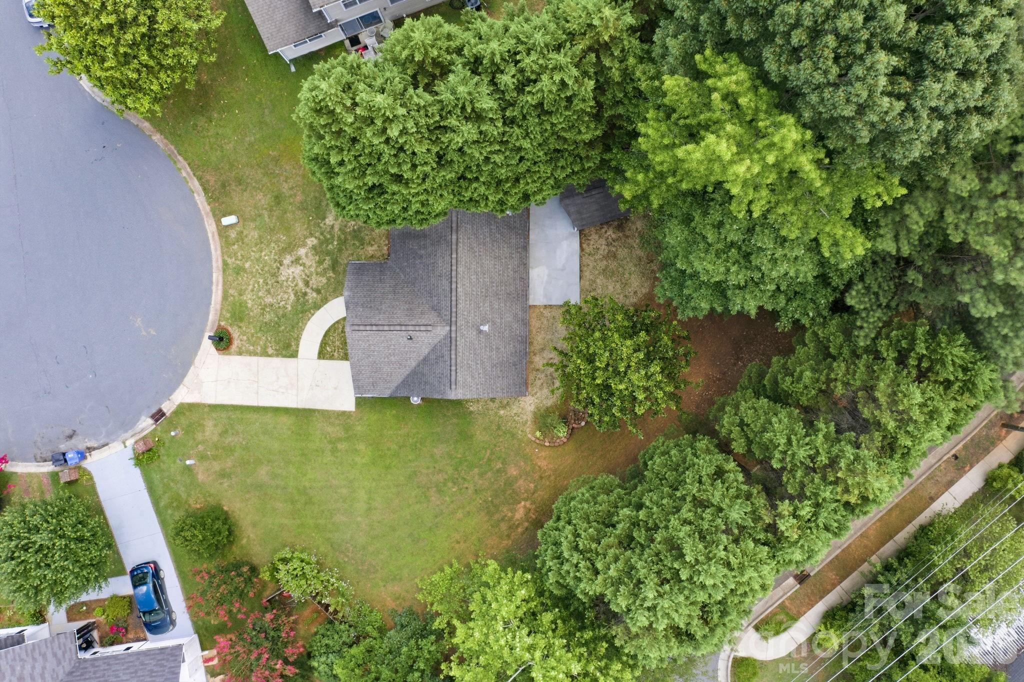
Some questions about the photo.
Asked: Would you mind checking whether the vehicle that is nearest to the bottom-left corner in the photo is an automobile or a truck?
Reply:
automobile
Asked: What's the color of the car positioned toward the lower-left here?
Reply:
blue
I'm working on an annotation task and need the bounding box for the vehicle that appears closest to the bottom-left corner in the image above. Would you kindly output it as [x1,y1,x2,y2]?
[129,561,177,637]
